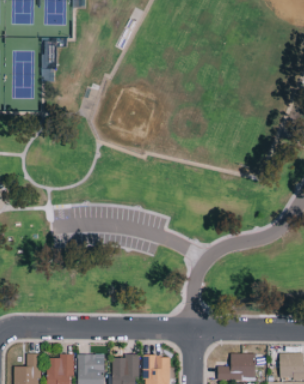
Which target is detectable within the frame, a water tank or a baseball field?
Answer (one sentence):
There is a baseball field in the scene.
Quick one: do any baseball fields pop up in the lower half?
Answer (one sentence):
No, I see no baseball field in the lower half.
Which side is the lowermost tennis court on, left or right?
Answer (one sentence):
You can find the lowermost tennis court on the left side of the picture.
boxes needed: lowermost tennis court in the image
[12,51,34,99]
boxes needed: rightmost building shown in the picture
[279,354,304,382]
